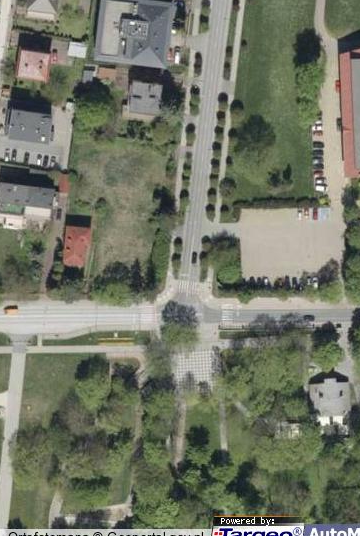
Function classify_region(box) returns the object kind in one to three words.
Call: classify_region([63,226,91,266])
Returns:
house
